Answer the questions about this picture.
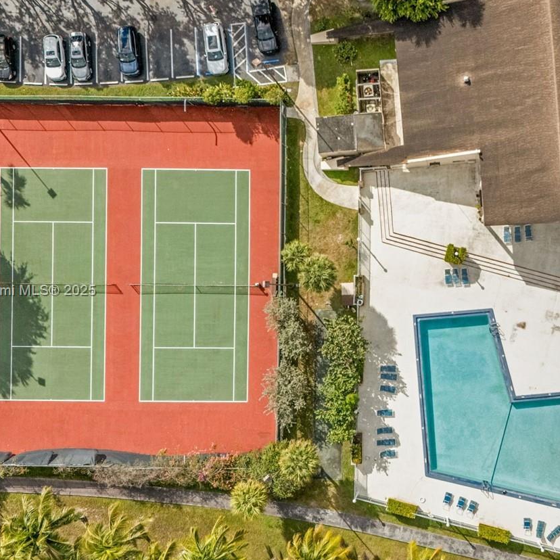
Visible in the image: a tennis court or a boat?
tennis court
